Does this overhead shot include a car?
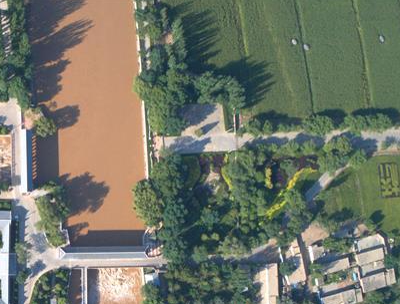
No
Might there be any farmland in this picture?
Yes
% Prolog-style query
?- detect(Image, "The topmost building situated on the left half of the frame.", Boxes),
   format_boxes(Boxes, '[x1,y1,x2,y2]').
[20,128,33,191]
